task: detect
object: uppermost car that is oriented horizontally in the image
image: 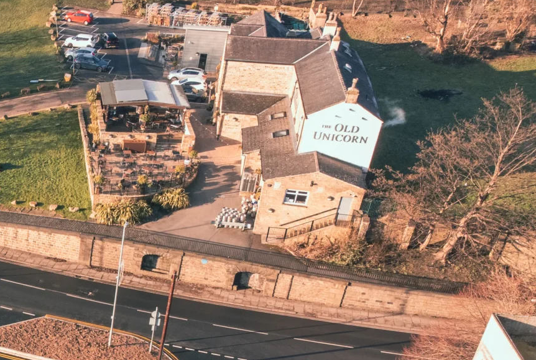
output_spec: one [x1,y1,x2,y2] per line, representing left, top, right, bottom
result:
[65,9,94,22]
